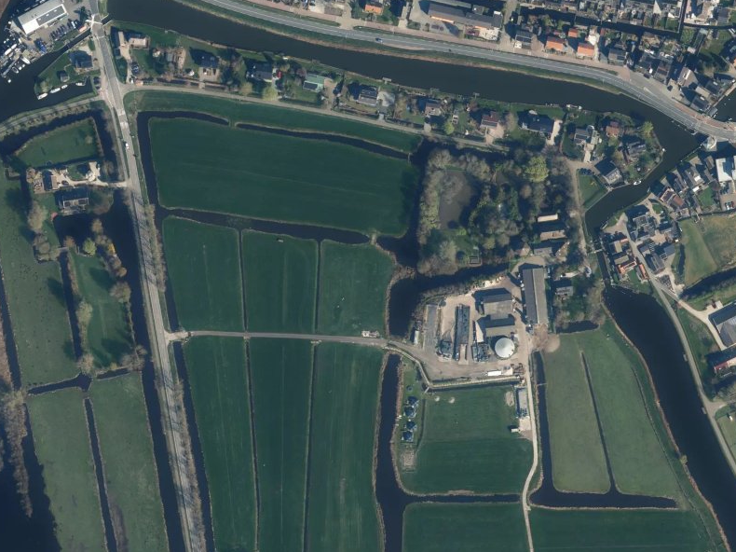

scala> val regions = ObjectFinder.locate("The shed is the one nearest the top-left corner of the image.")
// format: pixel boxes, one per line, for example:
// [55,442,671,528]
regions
[17,0,69,36]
